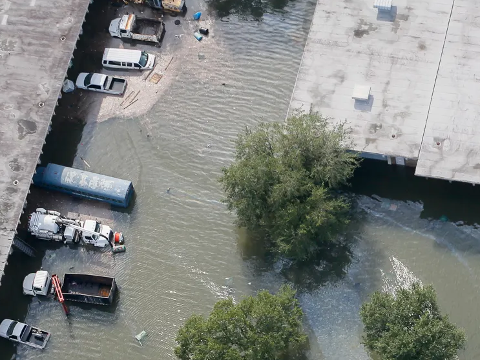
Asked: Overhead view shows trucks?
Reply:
Yes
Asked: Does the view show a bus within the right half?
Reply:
No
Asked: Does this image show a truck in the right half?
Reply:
No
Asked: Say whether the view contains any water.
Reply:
Yes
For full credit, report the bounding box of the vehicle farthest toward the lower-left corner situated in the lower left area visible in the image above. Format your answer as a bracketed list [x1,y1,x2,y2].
[0,319,54,351]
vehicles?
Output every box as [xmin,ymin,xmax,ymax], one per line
[74,70,132,97]
[101,48,158,72]
[115,0,187,21]
[106,14,166,45]
[0,319,54,351]
[27,206,115,254]
[20,269,119,312]
[33,166,137,210]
